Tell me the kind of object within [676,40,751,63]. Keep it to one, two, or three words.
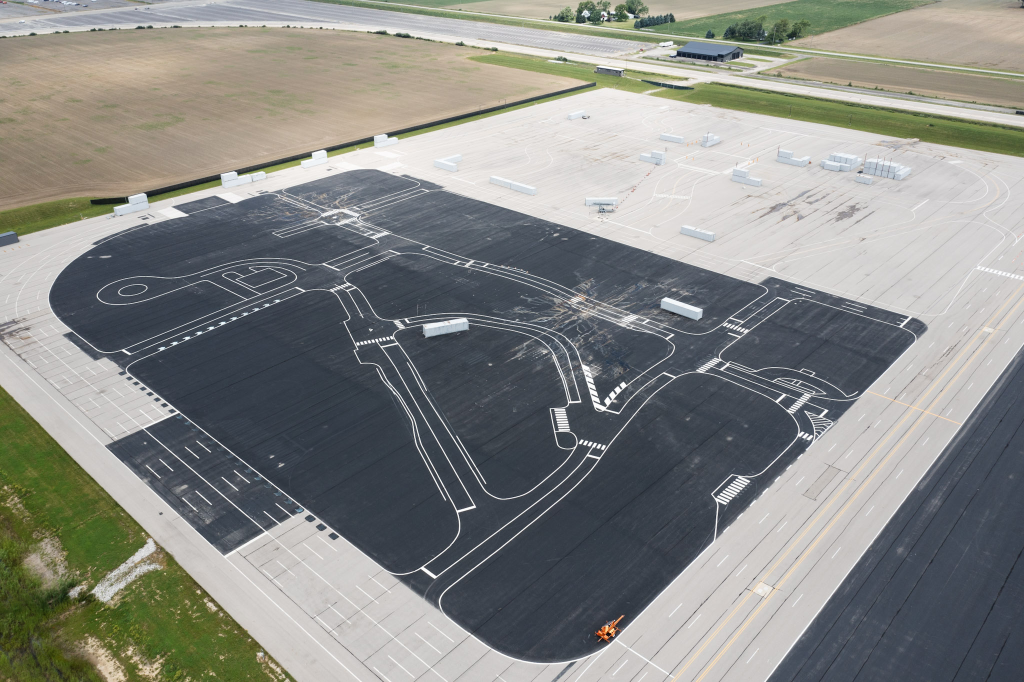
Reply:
barn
